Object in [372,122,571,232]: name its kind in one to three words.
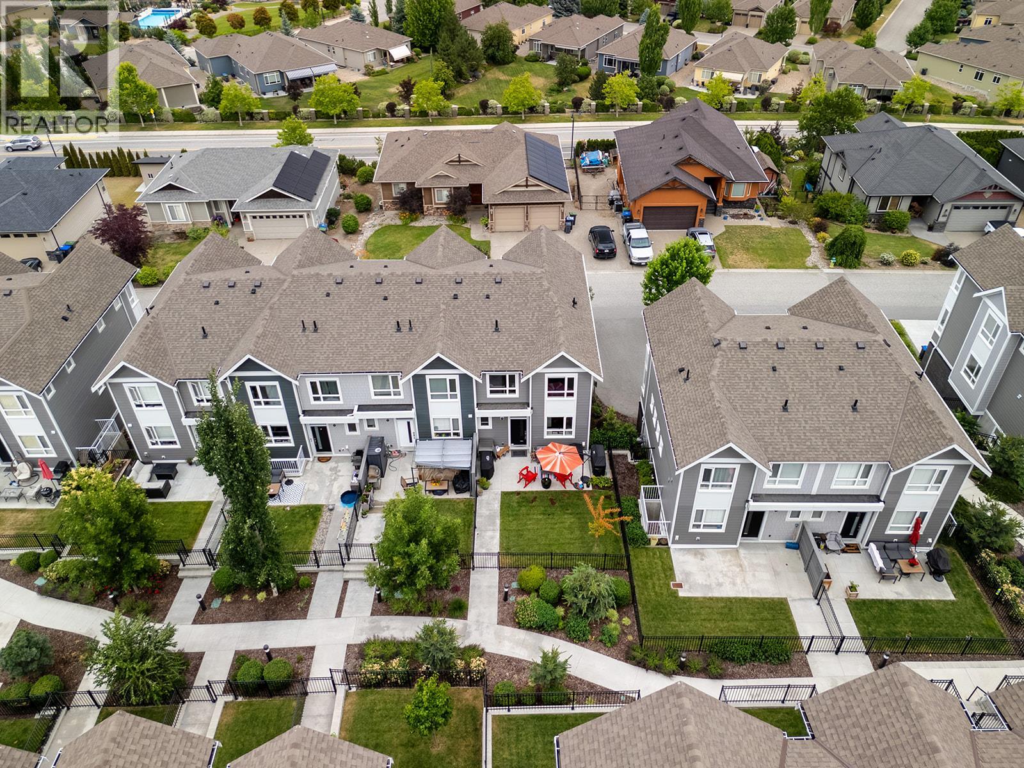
house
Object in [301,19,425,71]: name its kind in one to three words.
house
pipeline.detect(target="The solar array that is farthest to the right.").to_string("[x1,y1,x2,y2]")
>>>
[527,126,565,184]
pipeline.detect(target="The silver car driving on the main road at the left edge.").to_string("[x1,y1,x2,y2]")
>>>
[0,130,45,151]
